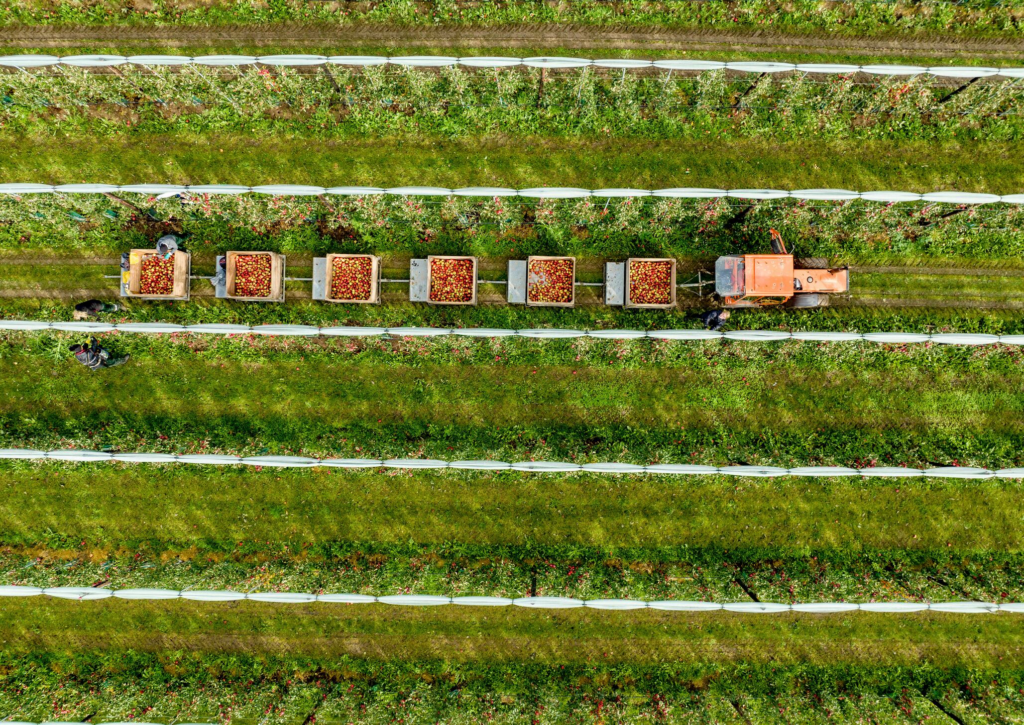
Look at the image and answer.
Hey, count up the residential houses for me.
0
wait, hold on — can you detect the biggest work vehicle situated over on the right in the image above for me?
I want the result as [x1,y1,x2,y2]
[682,229,852,308]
